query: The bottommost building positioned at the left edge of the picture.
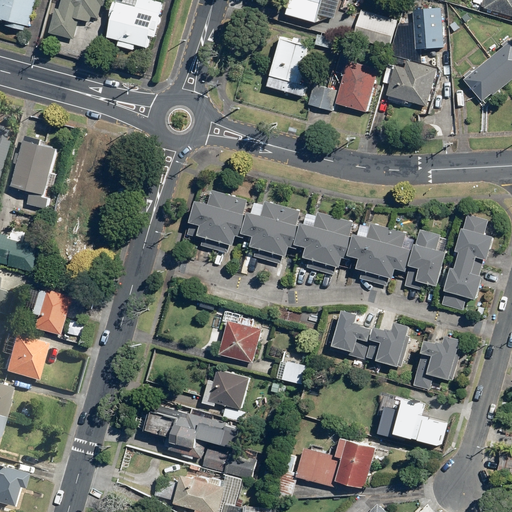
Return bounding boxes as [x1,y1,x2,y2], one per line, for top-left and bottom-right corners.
[0,462,32,508]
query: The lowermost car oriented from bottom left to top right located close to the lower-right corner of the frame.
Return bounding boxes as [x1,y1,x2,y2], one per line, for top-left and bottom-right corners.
[440,458,456,472]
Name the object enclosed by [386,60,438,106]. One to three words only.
house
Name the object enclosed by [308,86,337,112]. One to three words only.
building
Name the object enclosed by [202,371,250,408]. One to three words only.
house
